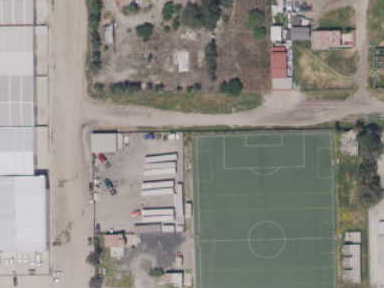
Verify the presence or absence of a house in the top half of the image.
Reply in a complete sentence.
Yes, a house is visible in the top half of the image.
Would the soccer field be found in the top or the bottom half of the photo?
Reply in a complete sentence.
The bottom half of the photo is where the soccer field is.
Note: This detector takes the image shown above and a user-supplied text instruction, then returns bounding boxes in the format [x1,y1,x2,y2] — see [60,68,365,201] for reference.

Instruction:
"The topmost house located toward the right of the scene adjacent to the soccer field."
[342,129,358,156]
